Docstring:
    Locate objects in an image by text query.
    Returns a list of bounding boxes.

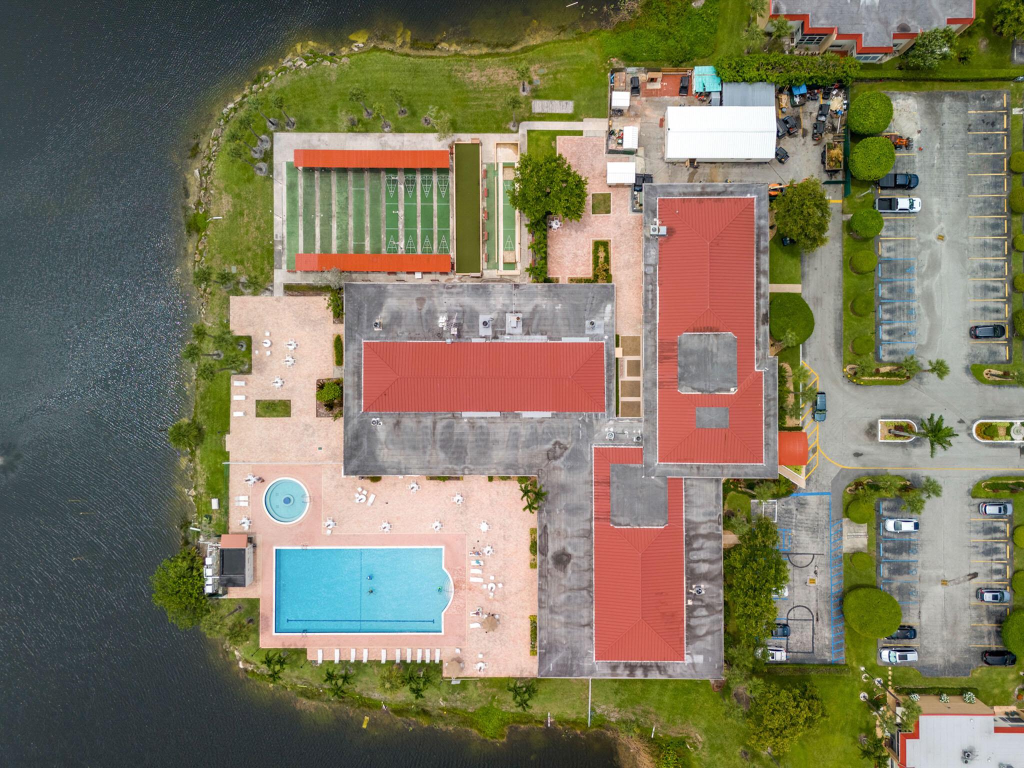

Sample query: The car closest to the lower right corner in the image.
[980,648,1015,666]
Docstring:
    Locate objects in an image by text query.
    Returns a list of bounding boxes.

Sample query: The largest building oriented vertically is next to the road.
[640,183,778,479]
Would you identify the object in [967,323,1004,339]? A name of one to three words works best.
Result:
car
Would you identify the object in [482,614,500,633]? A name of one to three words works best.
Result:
umbrella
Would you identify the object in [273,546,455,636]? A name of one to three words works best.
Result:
swimming pool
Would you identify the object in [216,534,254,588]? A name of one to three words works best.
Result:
building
